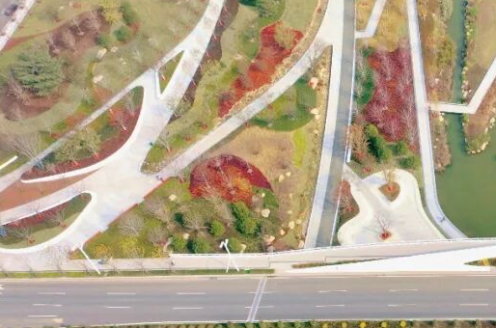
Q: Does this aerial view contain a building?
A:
No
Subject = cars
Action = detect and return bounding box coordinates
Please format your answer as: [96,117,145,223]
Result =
[4,3,17,15]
